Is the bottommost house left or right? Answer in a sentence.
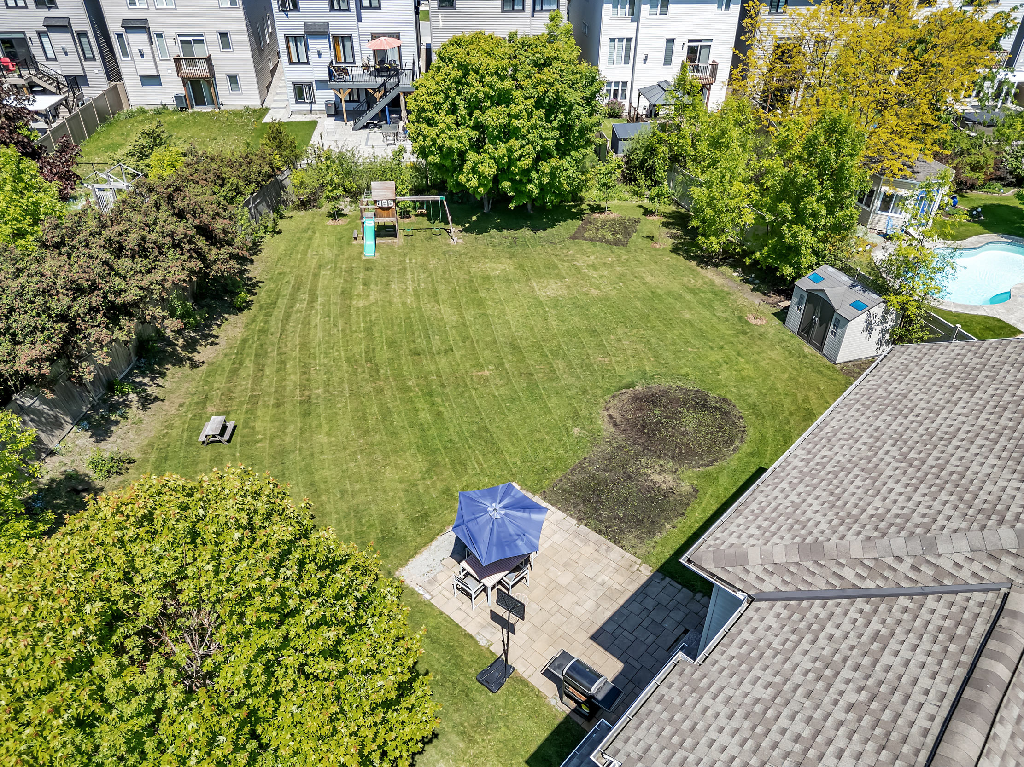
The bottommost house is on the right side of the image.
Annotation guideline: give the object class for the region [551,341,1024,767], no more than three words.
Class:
house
